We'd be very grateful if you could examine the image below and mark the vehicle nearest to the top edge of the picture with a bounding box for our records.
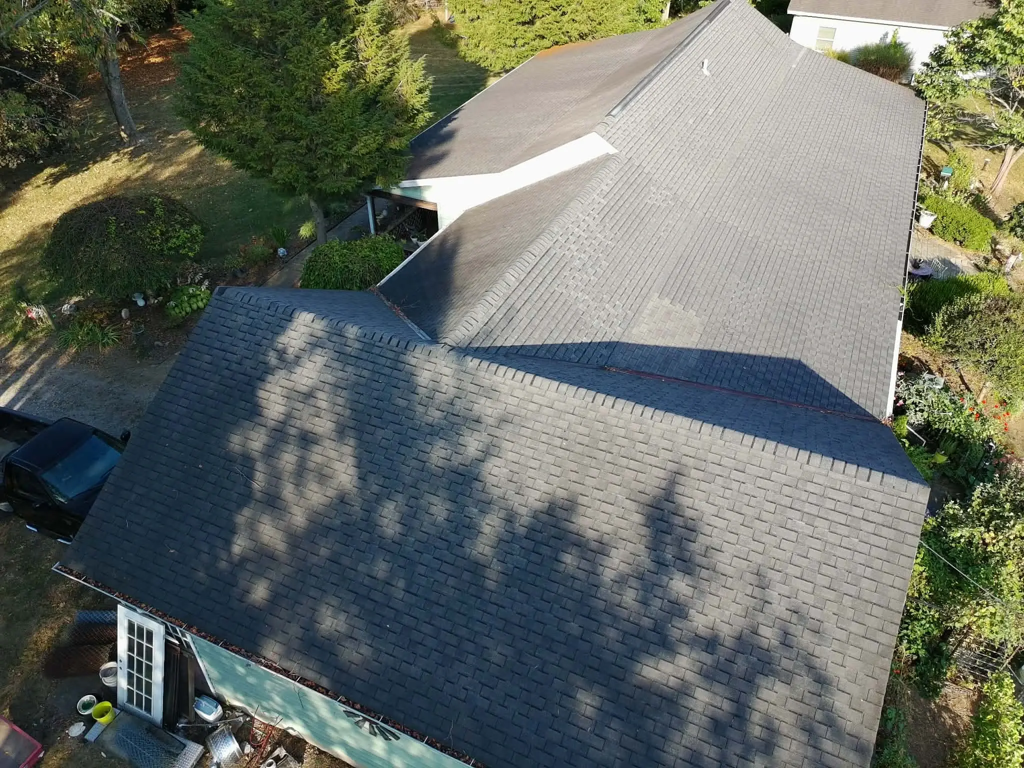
[0,390,126,547]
